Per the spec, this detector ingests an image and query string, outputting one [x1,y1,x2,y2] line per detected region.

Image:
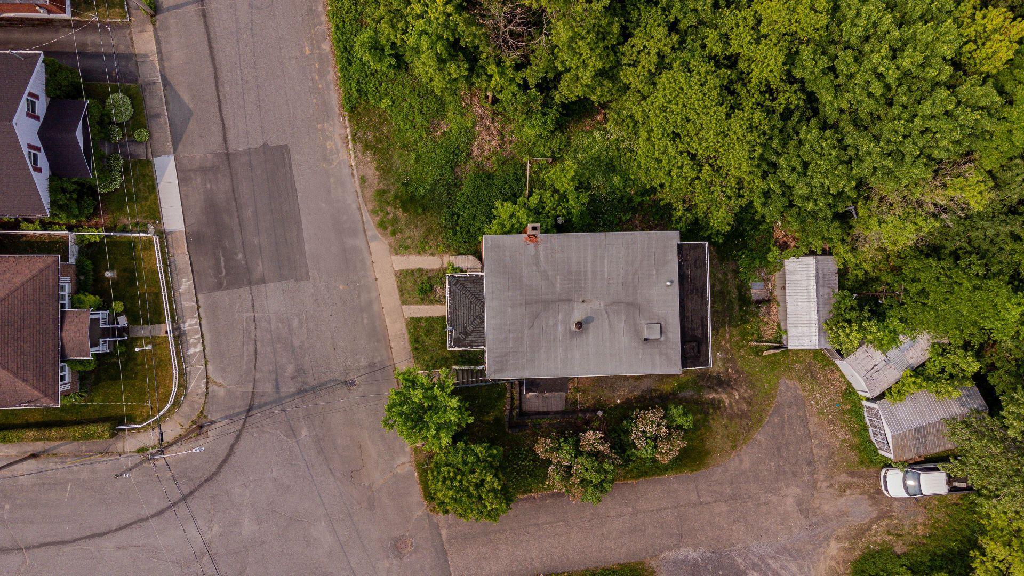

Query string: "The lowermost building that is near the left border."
[0,254,139,408]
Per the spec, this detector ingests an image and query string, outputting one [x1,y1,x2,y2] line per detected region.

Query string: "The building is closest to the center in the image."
[444,224,713,394]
